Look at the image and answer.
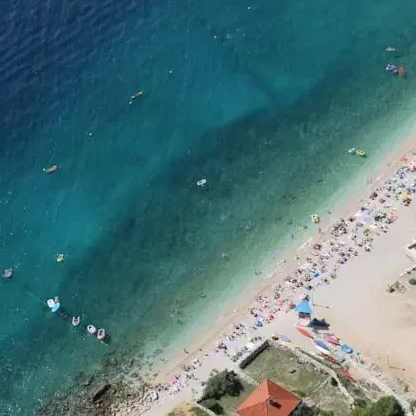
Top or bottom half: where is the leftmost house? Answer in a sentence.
It is in the bottom half that the leftmost house appears.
